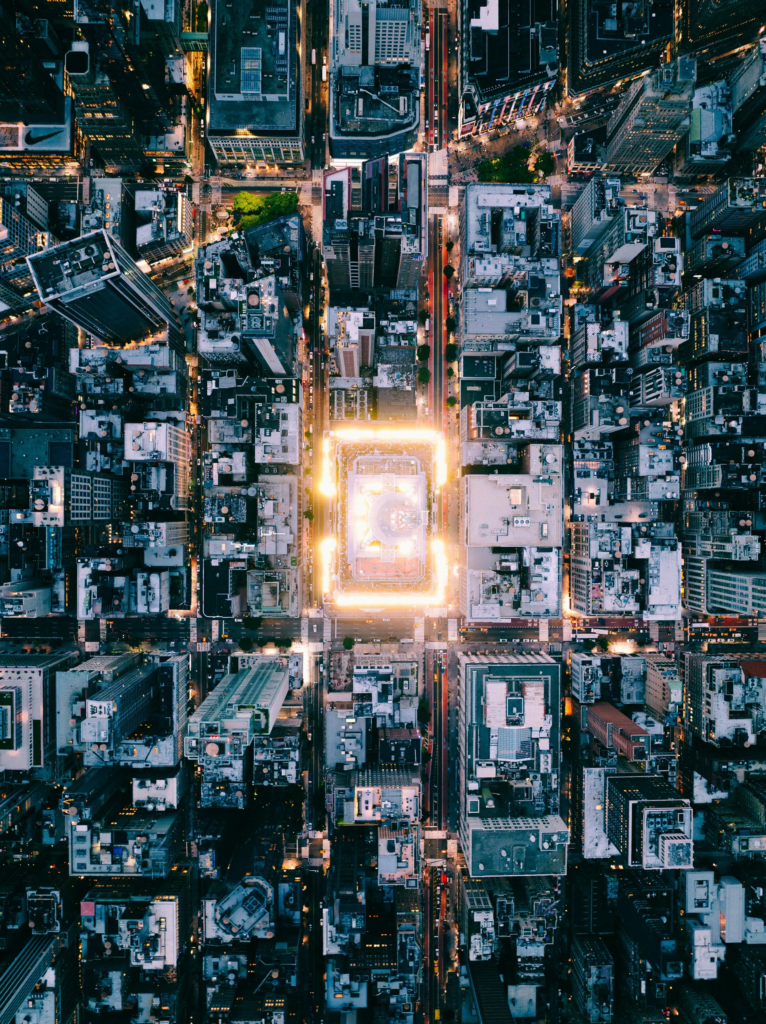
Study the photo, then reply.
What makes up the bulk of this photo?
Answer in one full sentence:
Most of the picture is covered by buildings.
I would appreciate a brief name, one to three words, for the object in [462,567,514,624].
building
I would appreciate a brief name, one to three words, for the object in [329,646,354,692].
building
